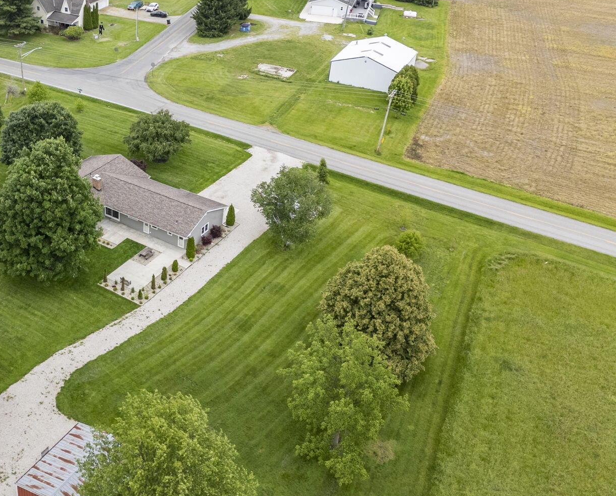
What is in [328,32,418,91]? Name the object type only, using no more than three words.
building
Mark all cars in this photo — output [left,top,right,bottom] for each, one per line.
[149,9,169,17]
[127,0,143,9]
[145,2,159,11]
